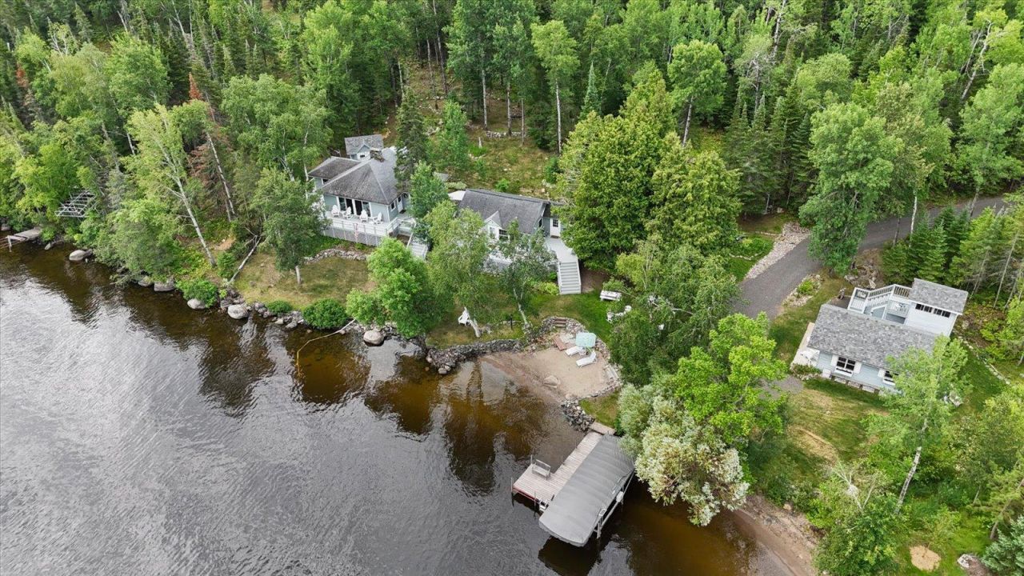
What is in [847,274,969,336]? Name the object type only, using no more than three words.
shed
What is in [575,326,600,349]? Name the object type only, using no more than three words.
umbrella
